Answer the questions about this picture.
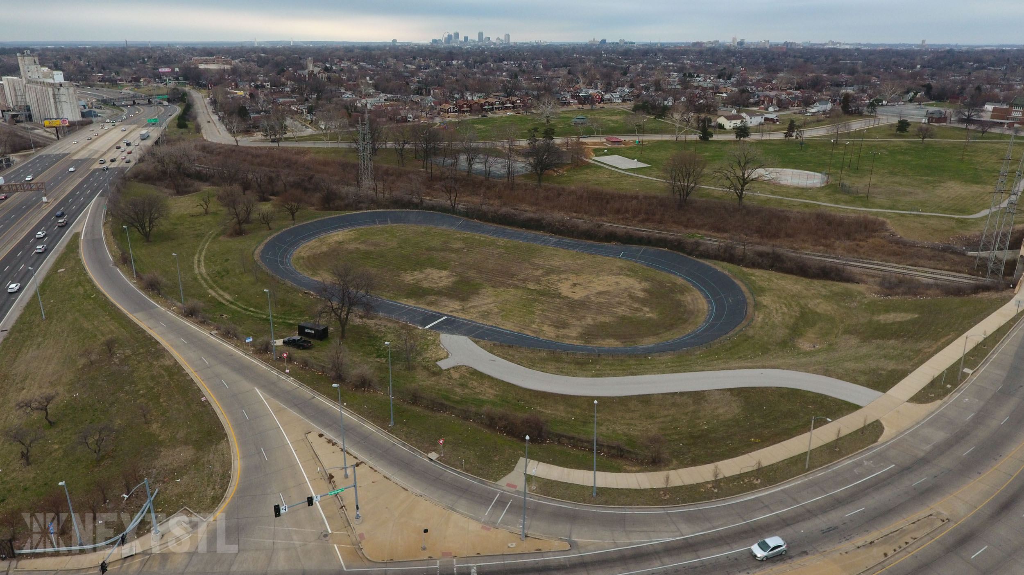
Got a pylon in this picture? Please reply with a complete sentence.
Yes, the image includes a pylon.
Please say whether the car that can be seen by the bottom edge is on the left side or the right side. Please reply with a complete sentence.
The car that can be seen by the bottom edge is on the right side of the image.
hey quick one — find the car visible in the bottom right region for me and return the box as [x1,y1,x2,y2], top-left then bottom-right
[751,540,792,566]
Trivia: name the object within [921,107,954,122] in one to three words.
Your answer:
house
